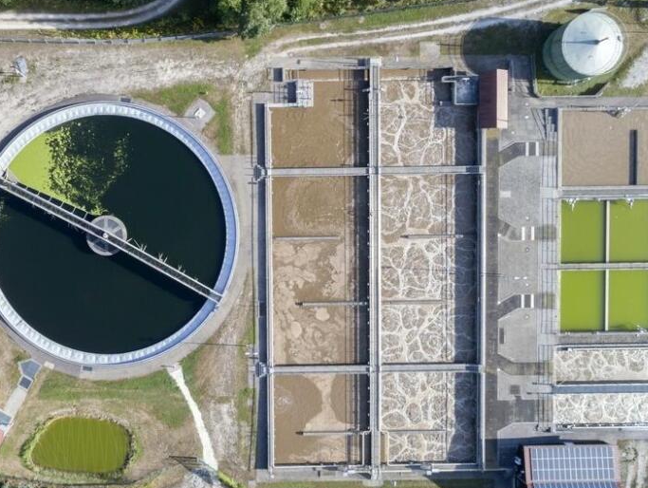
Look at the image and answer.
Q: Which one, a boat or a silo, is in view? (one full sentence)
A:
It is a silo that can be seen here.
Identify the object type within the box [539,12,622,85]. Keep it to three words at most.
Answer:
silo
